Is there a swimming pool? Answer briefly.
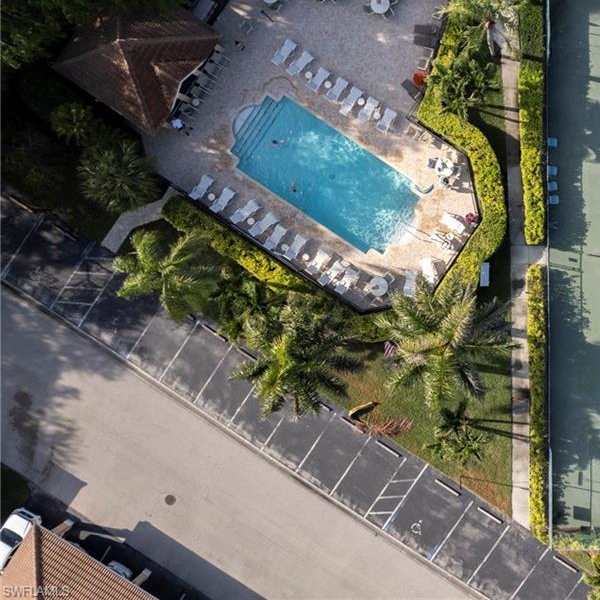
Yes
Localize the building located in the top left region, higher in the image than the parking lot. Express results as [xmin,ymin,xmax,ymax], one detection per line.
[50,0,234,140]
